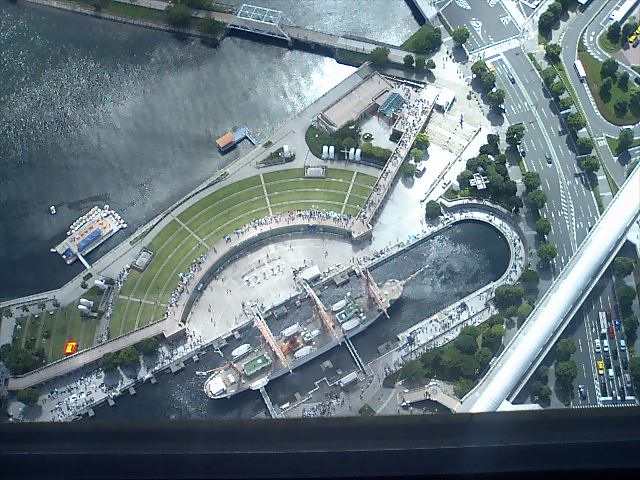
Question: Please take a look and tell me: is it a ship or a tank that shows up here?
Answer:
ship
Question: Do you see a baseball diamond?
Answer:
No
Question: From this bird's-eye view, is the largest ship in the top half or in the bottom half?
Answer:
bottom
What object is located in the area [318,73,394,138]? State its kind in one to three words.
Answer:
building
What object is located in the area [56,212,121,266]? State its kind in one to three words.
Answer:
pier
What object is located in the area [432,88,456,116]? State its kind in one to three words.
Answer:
building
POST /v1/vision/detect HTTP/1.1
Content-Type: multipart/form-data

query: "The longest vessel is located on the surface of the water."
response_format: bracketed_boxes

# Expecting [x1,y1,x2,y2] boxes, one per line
[167,249,435,419]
